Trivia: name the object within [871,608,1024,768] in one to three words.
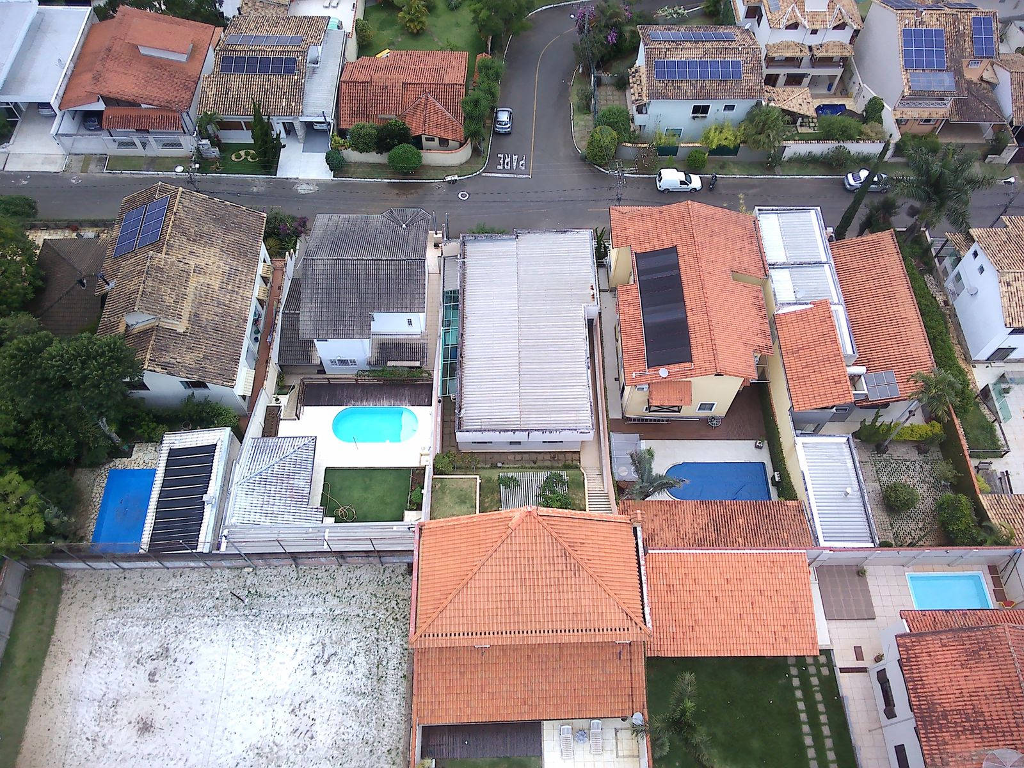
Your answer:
house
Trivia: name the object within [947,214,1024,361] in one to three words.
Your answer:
house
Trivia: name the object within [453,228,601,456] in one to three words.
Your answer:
building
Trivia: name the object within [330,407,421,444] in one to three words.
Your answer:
swimming pool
